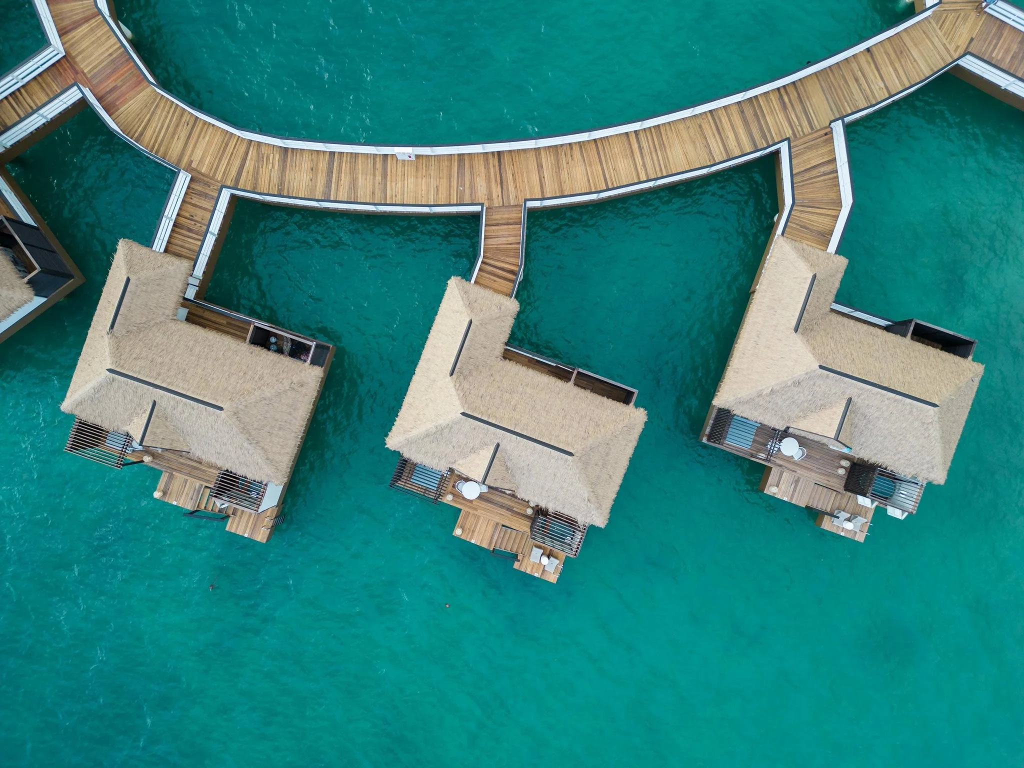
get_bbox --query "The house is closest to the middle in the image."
[383,274,650,583]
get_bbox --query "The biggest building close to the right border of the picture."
[696,231,981,541]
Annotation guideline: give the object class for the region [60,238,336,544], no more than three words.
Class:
house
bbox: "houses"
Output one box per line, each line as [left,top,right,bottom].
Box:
[383,274,650,583]
[0,122,85,343]
[696,231,981,541]
[60,238,336,544]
